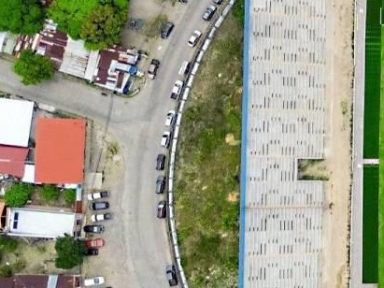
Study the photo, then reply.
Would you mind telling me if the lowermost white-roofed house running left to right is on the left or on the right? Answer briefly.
left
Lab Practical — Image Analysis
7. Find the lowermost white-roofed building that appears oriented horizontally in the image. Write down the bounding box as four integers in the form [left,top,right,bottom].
[5,209,83,238]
